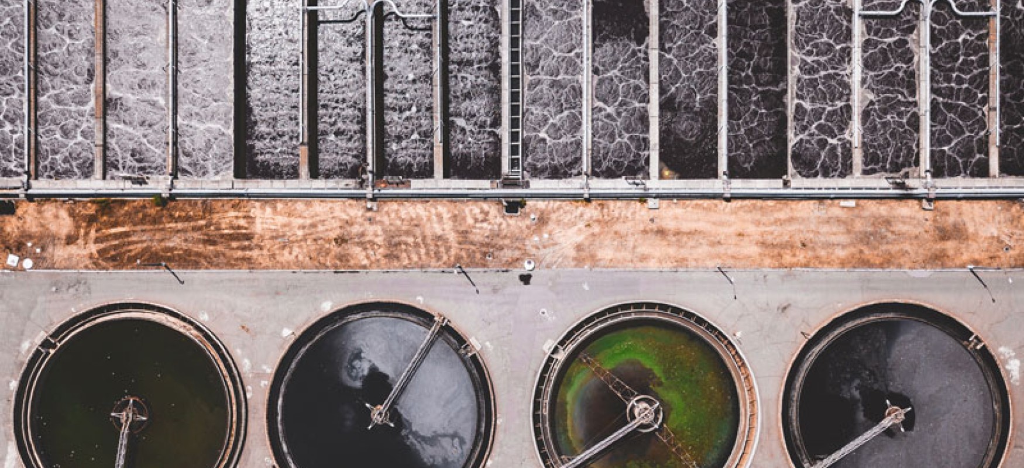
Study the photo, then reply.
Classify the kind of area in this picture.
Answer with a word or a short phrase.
industrial area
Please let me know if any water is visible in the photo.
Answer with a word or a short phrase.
Yes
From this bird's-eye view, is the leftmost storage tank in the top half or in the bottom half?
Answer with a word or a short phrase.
bottom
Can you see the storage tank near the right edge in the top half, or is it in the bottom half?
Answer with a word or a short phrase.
bottom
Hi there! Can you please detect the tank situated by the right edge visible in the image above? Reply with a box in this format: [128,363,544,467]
[782,301,1011,468]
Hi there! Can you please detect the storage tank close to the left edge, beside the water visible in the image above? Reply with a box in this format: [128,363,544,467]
[13,302,245,468]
